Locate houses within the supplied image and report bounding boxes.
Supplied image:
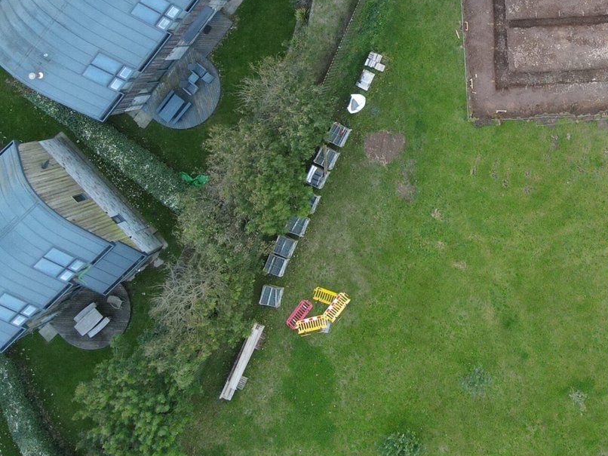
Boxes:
[0,0,236,123]
[0,125,178,356]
